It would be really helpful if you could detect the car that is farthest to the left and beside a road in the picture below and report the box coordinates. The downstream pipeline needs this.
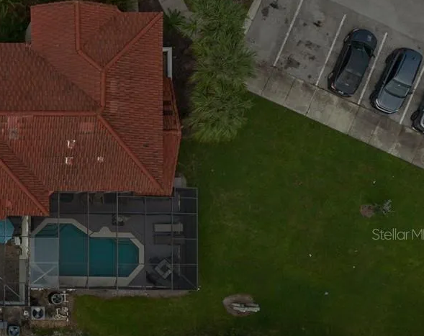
[324,25,378,100]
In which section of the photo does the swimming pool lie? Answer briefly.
bottom left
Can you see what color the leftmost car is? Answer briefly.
black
